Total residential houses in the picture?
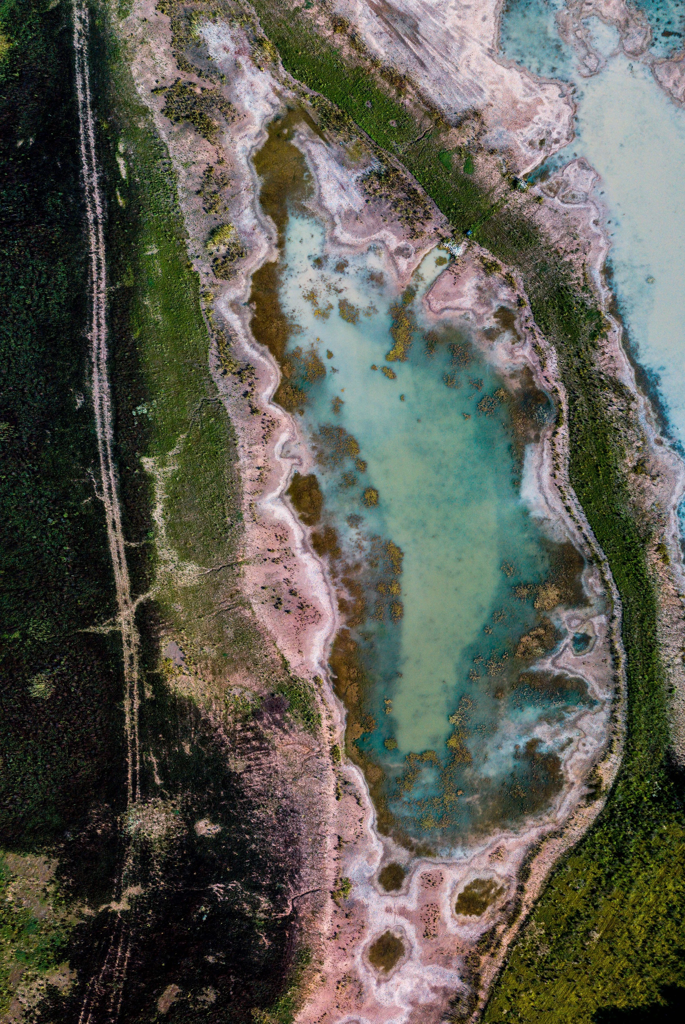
0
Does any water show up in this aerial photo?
Yes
